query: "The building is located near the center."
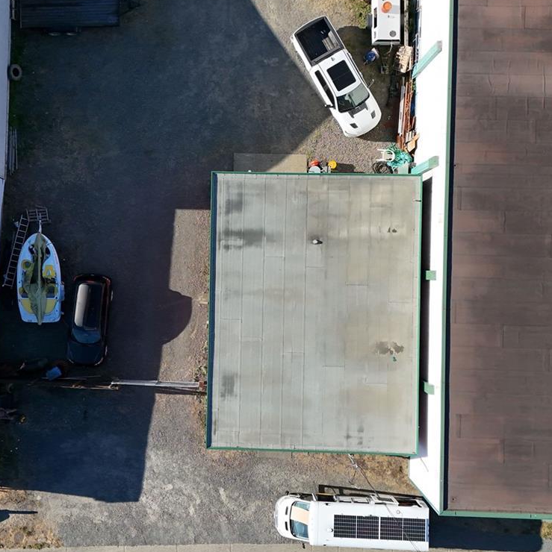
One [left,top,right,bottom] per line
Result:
[207,173,421,455]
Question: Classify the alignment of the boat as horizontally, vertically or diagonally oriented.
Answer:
vertically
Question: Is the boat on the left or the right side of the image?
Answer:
left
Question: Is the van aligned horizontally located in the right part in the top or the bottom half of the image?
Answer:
bottom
